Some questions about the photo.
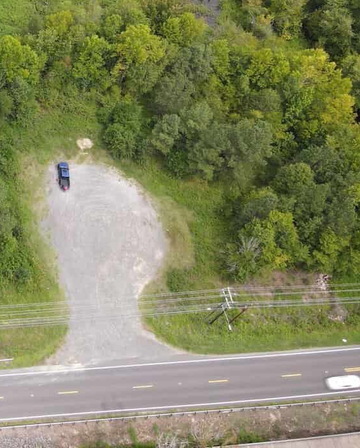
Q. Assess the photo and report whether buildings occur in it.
No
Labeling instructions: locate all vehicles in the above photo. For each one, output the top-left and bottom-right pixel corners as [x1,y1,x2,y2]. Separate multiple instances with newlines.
[57,165,72,192]
[326,374,359,390]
